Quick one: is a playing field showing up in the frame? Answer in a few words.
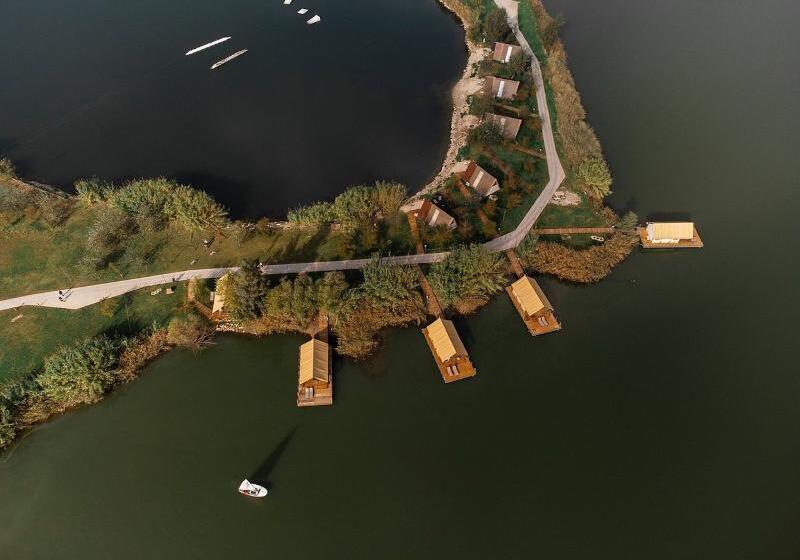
No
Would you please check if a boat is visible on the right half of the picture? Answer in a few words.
Yes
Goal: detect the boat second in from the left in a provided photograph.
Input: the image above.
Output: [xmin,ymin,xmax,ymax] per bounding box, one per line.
[297,337,334,406]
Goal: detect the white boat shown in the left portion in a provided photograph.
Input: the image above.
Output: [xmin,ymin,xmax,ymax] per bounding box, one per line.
[238,478,267,495]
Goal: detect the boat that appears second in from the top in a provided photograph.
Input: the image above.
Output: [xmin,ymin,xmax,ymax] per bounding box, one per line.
[505,274,562,337]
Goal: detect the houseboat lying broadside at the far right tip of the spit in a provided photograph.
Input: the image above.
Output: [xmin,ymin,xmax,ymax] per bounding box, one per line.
[638,222,703,249]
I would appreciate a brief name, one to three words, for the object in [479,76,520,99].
building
